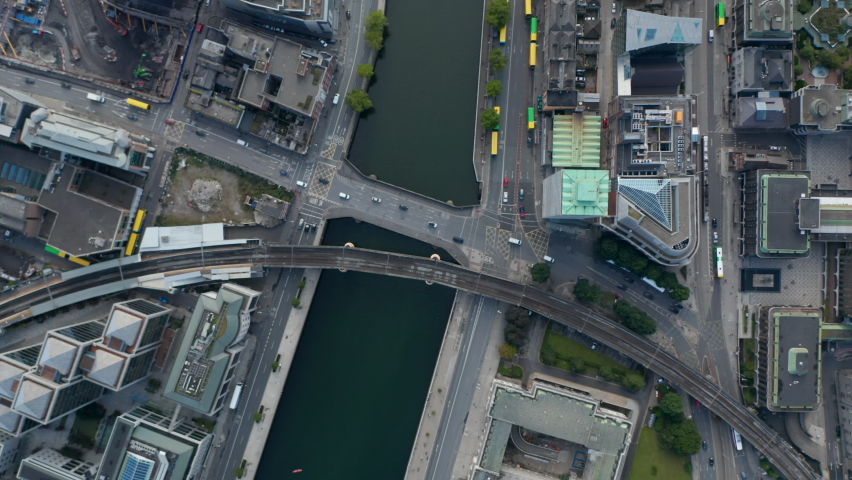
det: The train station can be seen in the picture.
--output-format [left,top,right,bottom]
[0,223,264,335]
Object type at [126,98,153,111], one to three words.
vehicle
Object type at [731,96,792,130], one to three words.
house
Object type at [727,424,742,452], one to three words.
vehicle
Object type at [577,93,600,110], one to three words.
building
